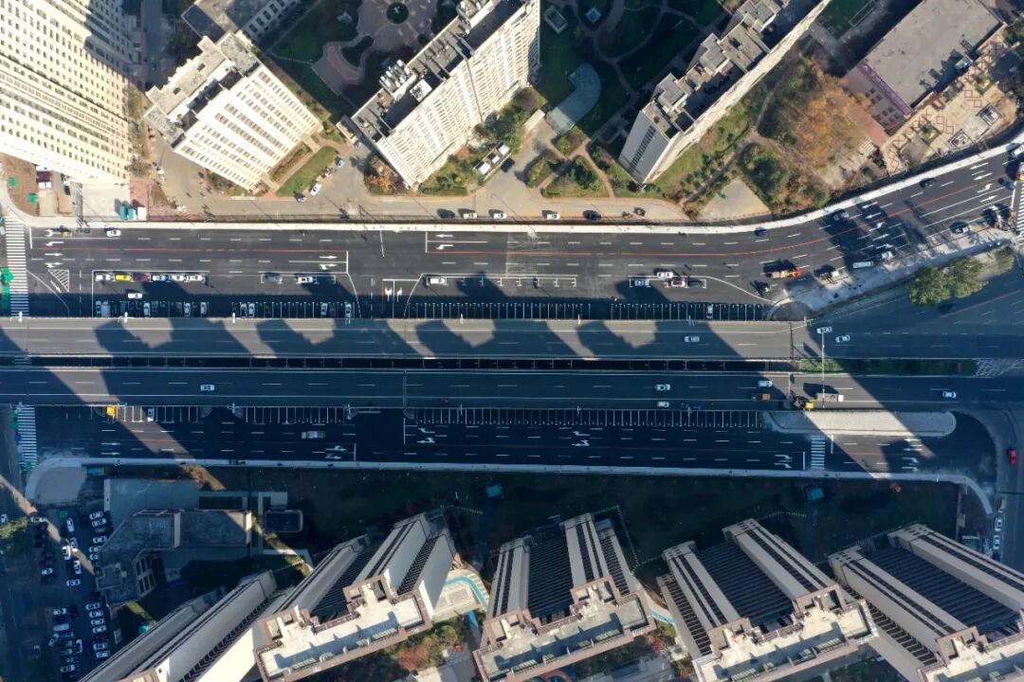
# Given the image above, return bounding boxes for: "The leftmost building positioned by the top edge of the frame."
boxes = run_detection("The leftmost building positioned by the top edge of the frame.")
[0,0,139,178]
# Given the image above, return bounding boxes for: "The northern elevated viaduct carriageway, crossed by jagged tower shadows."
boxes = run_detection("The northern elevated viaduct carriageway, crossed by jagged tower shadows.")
[0,318,792,360]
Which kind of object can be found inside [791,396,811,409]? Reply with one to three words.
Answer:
vehicle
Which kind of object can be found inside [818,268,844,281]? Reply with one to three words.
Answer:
vehicle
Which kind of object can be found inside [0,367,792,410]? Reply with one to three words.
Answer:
overpass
